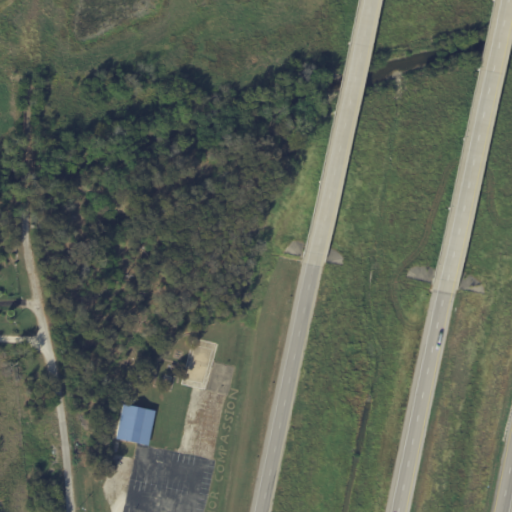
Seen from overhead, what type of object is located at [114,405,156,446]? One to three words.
building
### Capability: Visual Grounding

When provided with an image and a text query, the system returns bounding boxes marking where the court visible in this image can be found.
[182,339,216,390]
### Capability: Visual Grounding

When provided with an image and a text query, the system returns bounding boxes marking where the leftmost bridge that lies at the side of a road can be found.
[286,0,384,268]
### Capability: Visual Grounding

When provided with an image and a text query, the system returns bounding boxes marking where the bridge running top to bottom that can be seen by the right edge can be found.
[408,0,512,295]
